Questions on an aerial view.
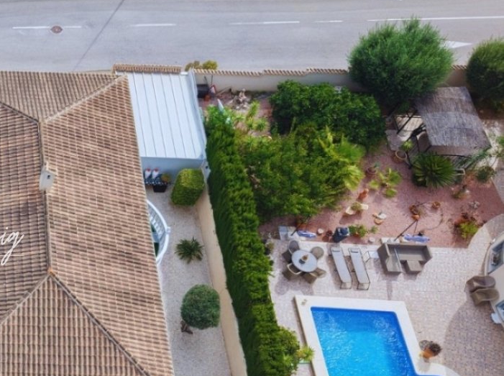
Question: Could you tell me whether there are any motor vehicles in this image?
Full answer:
No, I can see no motor vehicle in this picture.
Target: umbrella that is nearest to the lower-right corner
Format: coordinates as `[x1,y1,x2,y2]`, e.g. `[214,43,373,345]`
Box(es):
[399,214,430,246]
